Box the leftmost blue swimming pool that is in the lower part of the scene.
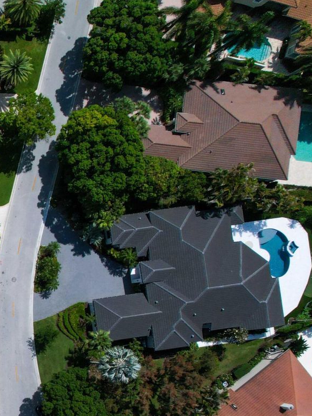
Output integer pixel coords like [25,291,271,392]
[257,227,290,278]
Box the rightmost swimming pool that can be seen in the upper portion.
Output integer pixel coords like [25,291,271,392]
[293,106,312,163]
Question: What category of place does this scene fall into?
residential area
